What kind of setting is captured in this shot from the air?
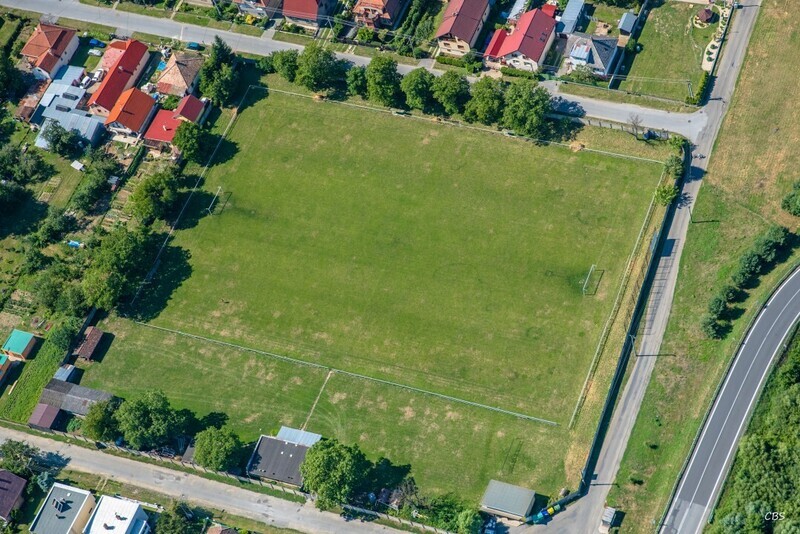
sports ground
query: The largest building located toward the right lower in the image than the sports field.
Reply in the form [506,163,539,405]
[482,479,534,522]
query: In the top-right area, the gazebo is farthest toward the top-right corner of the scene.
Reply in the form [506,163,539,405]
[695,7,713,26]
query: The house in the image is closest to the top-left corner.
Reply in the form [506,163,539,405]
[20,23,76,80]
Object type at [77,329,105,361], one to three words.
shed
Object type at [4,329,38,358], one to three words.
building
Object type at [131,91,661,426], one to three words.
sports field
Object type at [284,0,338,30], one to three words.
house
